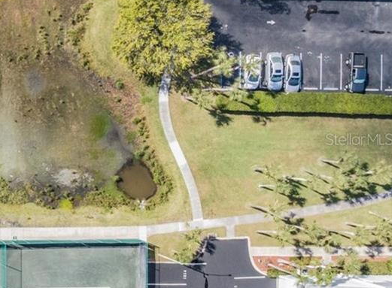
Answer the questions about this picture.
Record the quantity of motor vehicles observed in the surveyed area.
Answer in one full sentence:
My tally gives 4 motor vehicles in this view.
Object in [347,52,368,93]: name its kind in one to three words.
truck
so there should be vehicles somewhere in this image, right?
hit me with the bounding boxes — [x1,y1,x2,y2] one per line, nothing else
[283,54,304,92]
[347,52,368,93]
[265,53,285,89]
[242,62,263,91]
